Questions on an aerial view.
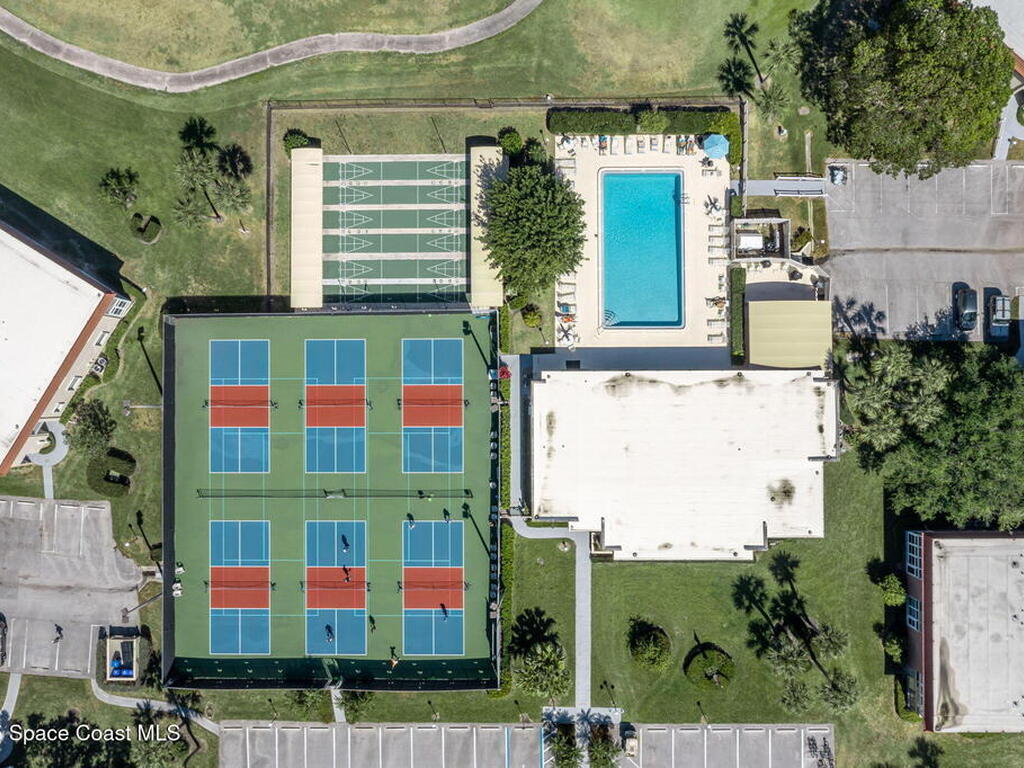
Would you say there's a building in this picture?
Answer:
Yes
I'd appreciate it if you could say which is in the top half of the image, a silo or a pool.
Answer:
pool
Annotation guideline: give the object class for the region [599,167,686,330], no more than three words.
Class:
swimming pool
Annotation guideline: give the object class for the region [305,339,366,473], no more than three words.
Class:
sports court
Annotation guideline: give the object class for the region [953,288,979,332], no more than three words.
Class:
car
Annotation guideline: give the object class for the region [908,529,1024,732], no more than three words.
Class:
building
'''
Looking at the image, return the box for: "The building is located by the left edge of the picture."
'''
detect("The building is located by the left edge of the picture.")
[0,212,134,518]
